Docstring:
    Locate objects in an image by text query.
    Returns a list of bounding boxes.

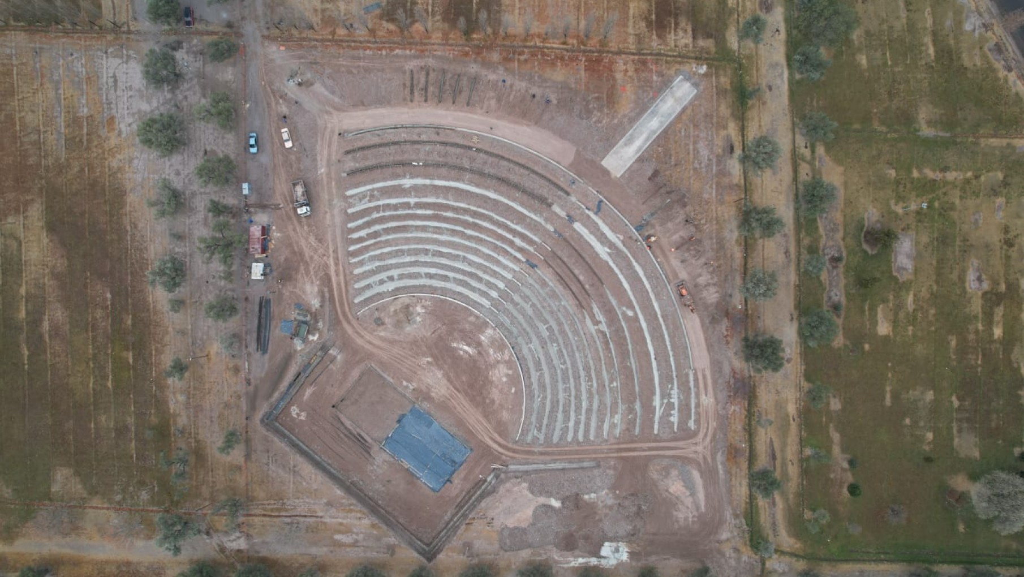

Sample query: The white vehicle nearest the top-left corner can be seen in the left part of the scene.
[281,128,293,149]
